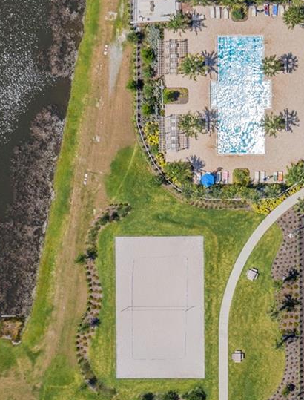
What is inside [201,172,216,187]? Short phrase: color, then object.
blue umbrella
